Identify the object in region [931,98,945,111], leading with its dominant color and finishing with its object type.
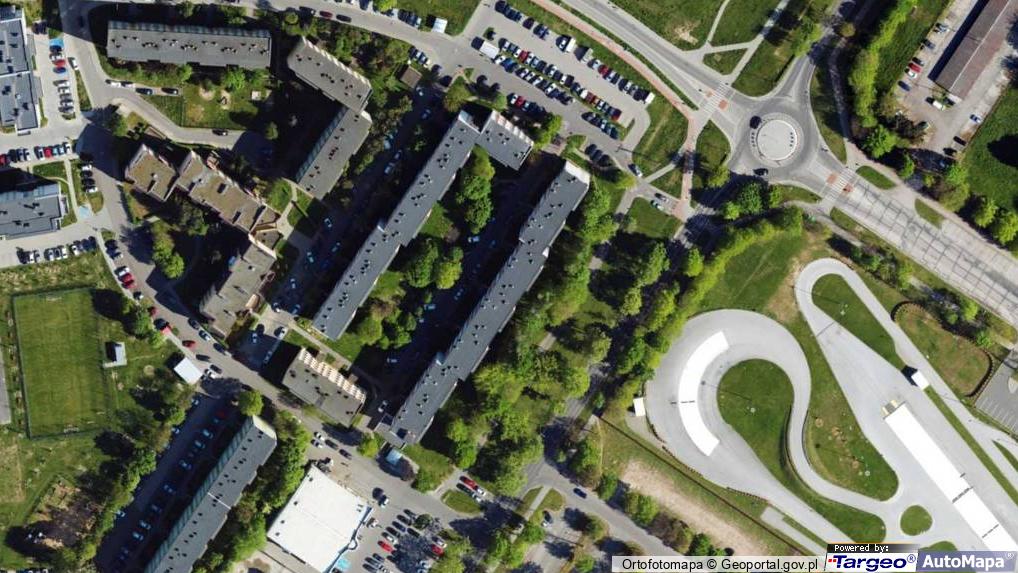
white vehicle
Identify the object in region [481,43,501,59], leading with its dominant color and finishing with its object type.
white vehicle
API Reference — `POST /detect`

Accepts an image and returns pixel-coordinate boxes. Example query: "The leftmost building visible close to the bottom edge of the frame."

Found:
[143,417,276,573]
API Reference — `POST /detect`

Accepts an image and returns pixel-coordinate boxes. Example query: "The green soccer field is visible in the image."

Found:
[15,290,113,437]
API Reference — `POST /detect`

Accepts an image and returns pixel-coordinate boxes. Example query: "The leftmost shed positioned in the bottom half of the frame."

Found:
[103,340,127,367]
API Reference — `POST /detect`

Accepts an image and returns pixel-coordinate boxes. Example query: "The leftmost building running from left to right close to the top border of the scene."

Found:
[106,20,270,70]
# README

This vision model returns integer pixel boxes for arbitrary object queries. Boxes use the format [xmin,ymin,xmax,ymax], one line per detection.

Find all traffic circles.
[734,97,819,182]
